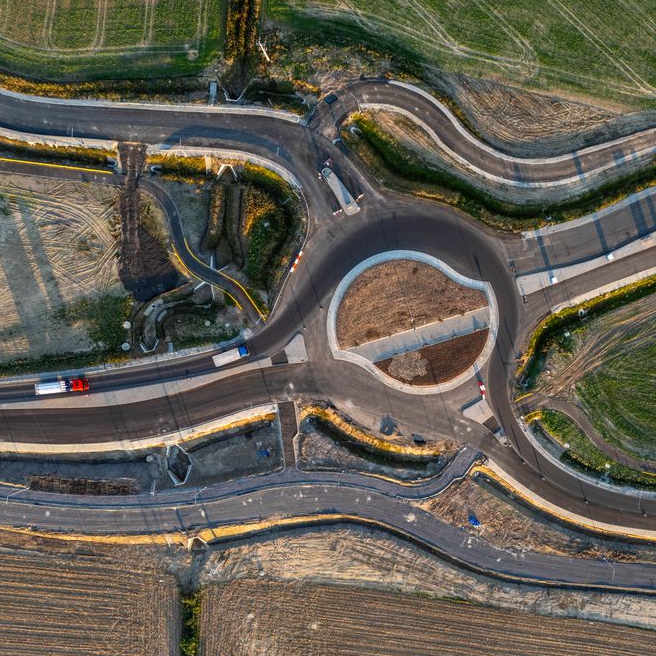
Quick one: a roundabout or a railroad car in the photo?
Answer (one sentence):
Looking from above, you can make out a roundabout.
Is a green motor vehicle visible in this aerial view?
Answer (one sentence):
No, there is no green motor vehicle in the image.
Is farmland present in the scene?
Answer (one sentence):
Yes, farmland can be seen from above here.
